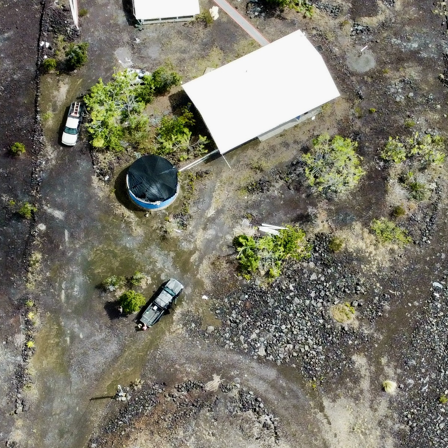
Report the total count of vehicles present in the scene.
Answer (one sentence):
In total, there are 2 vehicles in the scene.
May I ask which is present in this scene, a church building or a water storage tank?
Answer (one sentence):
I can see a water storage tank in this picture.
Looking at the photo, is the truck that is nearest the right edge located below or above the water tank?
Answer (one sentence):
In the image, the truck that is nearest the right edge appears below the water tank.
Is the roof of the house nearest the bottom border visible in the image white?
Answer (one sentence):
Yes, the roof of the house nearest the bottom border is white.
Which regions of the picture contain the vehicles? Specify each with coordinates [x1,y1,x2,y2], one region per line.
[60,100,86,147]
[142,276,185,331]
